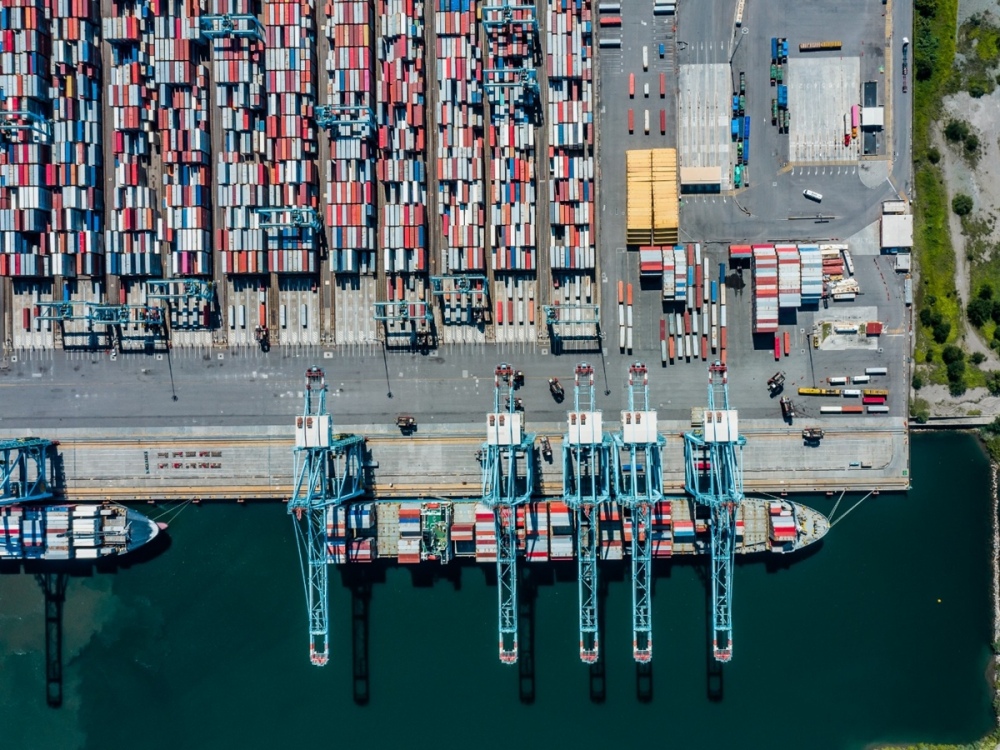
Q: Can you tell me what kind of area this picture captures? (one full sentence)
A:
It's a port.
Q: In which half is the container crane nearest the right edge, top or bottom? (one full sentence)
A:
The container crane nearest the right edge sits in the bottom half of the picture.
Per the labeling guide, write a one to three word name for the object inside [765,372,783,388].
work vehicle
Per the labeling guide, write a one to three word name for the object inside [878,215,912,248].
shed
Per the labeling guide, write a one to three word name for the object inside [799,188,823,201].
vehicle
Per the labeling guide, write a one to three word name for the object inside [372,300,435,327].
container crane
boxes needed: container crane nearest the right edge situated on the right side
[674,362,746,661]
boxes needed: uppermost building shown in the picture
[862,82,877,107]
